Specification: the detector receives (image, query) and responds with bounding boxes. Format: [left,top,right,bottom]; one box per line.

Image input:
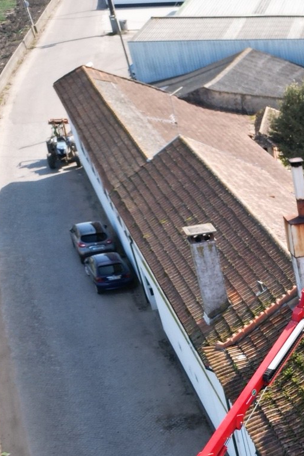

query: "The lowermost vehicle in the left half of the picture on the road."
[80,250,128,288]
